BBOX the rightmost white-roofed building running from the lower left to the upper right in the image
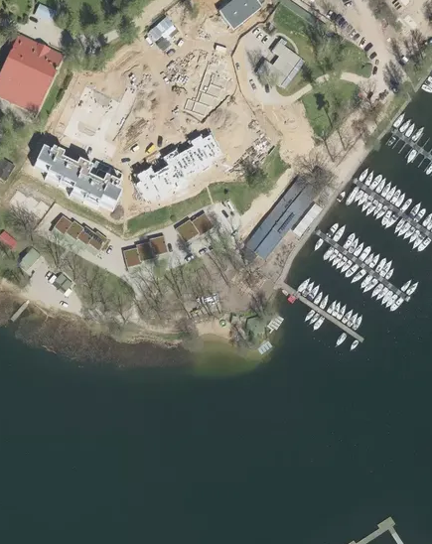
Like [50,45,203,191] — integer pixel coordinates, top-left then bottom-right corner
[295,205,321,238]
